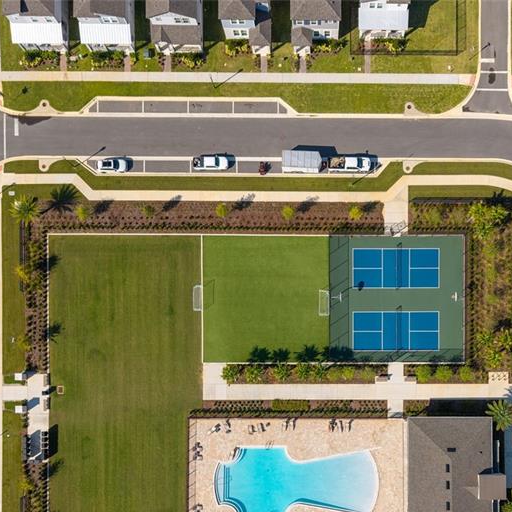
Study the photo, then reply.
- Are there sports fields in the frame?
Yes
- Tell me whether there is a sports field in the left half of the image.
Yes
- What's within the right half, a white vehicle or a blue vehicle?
white vehicle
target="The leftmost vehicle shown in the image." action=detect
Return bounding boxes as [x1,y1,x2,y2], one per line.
[98,158,128,173]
